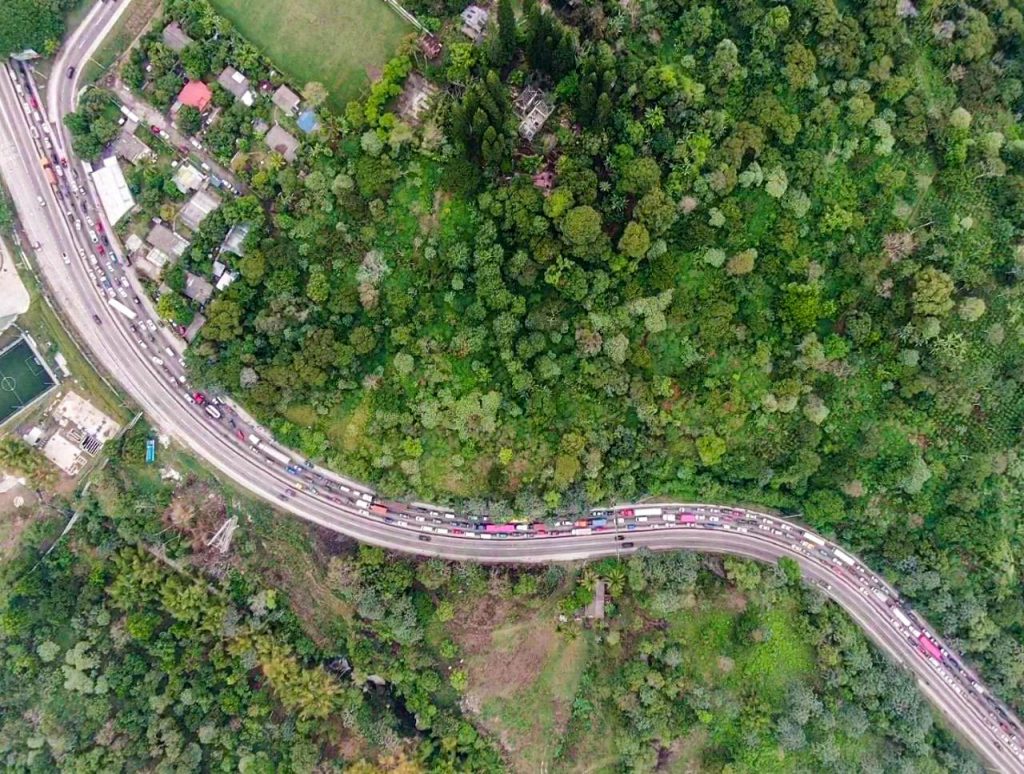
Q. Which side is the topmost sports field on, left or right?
left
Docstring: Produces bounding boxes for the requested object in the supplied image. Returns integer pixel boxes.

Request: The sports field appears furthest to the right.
[214,0,416,114]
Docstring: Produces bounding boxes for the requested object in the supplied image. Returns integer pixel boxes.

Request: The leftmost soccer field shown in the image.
[0,339,57,425]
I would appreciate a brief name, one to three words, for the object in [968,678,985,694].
vehicle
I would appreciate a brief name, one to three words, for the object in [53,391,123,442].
building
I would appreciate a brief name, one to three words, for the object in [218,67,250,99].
house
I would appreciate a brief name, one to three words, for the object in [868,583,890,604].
truck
